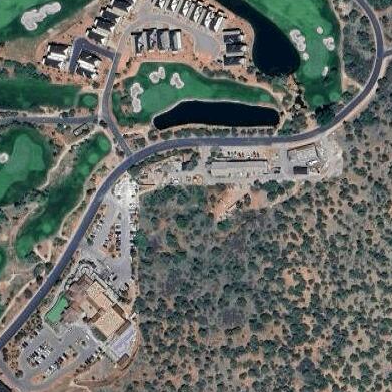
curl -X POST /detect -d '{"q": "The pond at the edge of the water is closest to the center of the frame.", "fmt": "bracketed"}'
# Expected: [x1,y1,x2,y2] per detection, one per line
[153,103,279,128]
